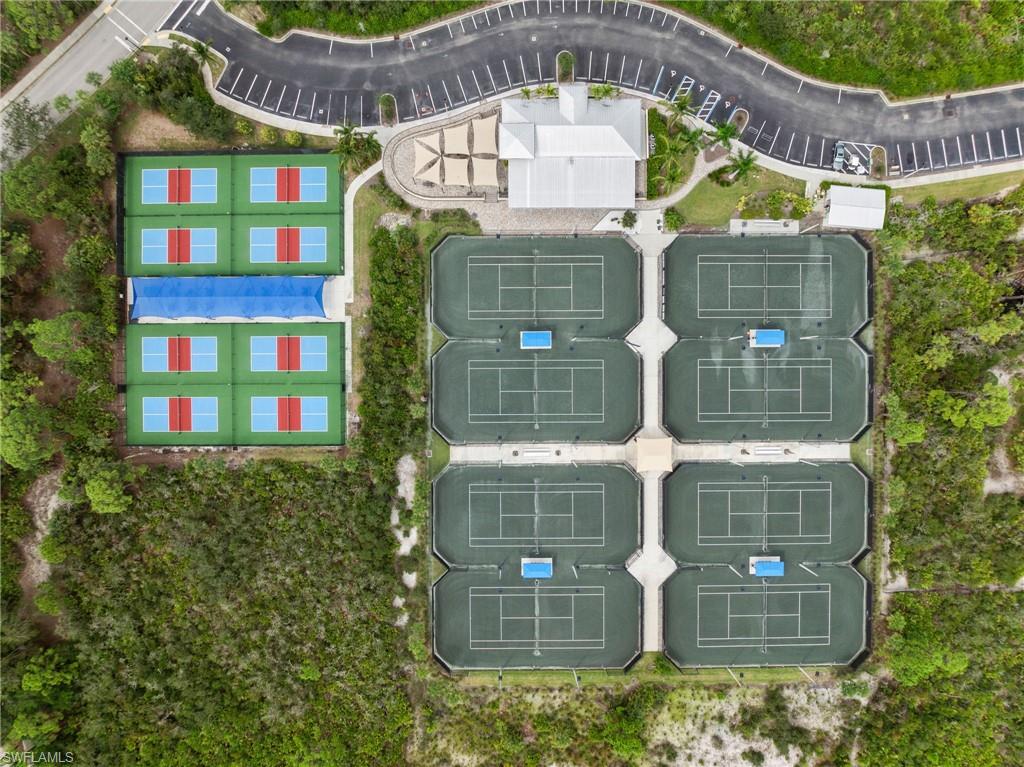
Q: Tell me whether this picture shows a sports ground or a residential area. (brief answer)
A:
sports ground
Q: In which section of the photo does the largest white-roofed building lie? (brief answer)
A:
top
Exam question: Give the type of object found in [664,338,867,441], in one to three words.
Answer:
tennis court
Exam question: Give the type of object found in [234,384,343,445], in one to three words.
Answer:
sports court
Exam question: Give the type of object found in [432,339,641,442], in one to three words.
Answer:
tennis court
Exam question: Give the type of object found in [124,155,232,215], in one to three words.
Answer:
sports court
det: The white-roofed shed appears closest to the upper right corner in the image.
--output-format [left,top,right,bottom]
[823,185,886,231]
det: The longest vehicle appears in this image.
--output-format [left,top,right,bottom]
[831,142,847,171]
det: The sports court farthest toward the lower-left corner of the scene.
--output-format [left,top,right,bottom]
[127,384,234,445]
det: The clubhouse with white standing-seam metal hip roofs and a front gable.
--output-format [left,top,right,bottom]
[499,84,641,209]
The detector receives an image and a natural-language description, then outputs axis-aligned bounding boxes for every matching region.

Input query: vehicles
[831,142,847,171]
[849,154,863,170]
